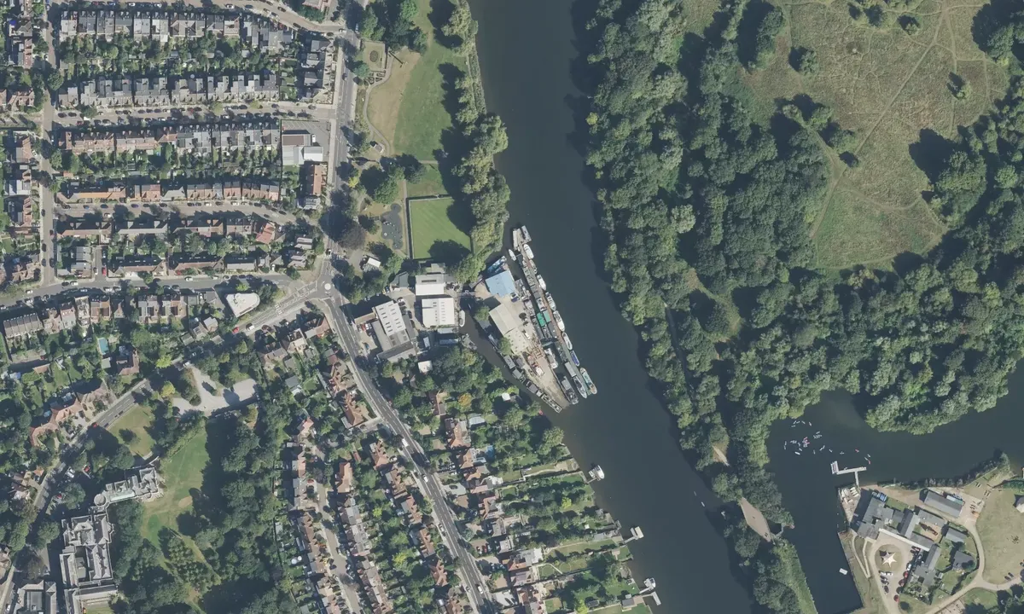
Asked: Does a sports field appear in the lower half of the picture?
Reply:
No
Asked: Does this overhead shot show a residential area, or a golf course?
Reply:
residential area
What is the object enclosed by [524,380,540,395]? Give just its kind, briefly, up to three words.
boat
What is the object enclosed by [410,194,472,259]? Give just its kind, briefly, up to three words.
sports field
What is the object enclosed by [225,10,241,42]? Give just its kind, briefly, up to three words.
house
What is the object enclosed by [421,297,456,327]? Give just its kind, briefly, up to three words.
building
